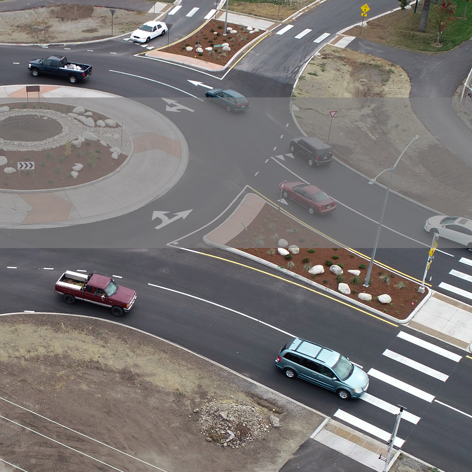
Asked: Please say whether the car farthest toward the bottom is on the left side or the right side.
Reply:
right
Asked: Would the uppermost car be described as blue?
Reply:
No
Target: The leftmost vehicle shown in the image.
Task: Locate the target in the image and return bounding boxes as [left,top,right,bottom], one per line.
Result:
[27,54,95,83]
